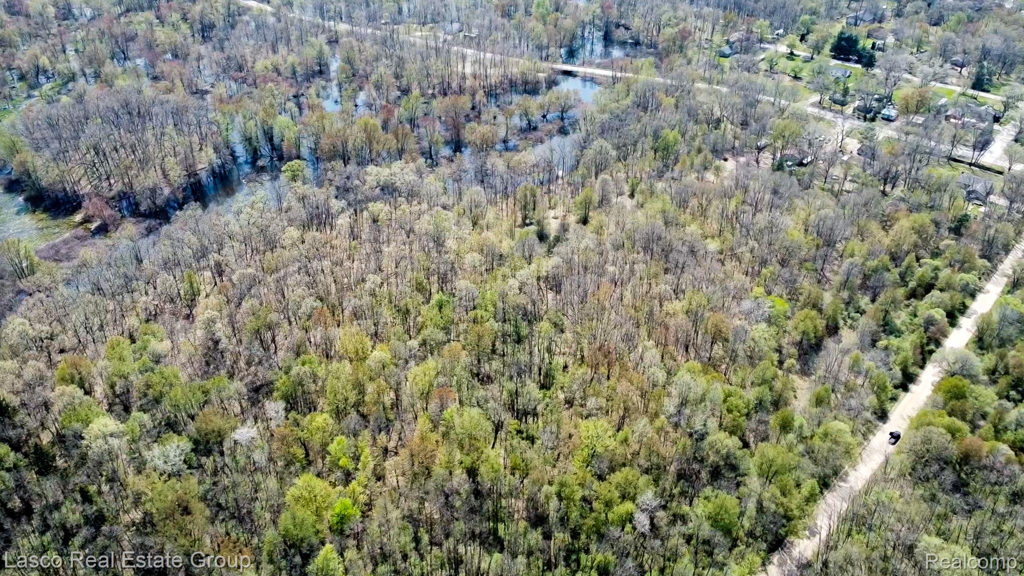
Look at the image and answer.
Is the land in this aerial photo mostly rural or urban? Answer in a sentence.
It looks rural.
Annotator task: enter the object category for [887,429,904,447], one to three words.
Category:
vehicle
